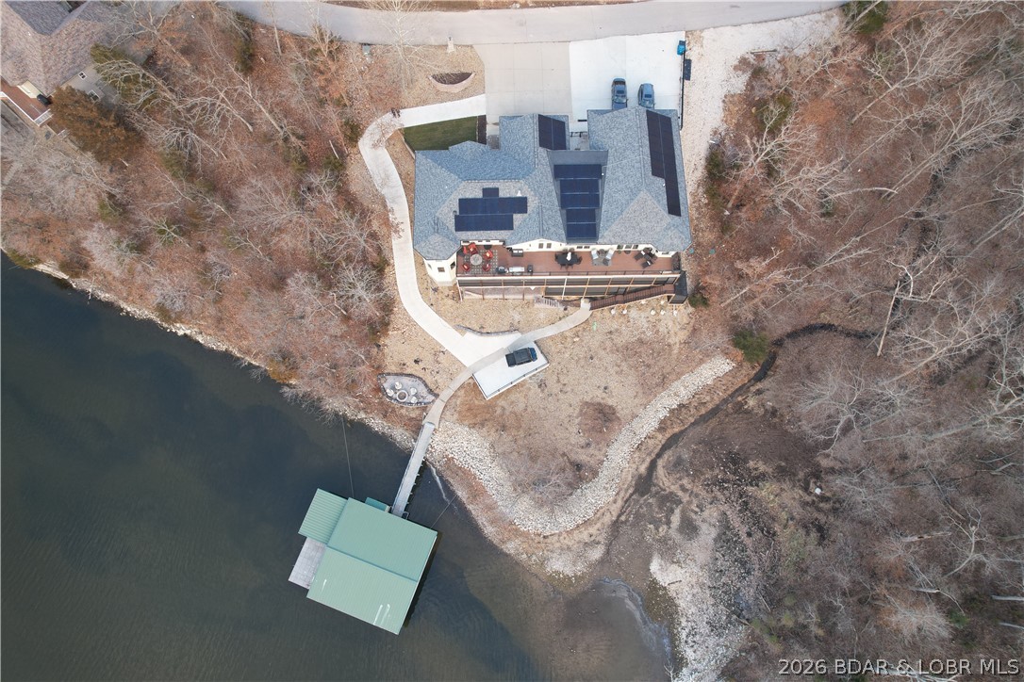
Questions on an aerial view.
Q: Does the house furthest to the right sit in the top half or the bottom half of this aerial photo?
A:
top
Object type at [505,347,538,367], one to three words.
vehicle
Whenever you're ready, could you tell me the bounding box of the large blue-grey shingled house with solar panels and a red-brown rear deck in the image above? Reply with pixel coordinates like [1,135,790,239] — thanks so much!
[413,106,691,314]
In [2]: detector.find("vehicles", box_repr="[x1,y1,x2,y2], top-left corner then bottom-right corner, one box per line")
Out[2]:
[611,76,630,110]
[638,80,659,110]
[505,347,538,367]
